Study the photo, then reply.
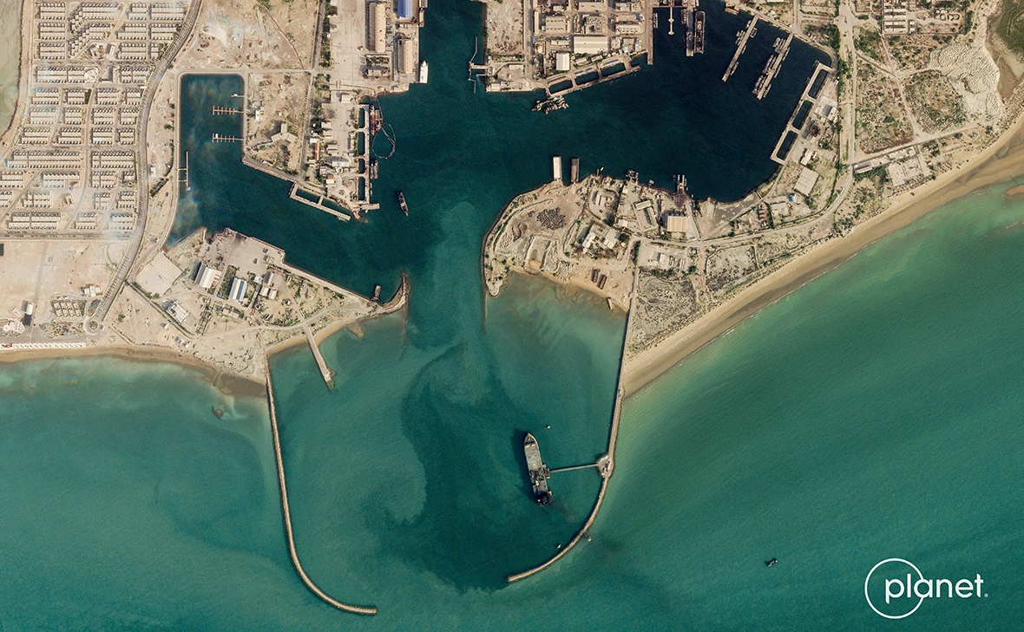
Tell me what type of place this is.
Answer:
port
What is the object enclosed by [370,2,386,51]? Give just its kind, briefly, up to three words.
building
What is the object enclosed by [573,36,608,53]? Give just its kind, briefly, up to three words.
building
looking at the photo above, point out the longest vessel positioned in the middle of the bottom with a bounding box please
[523,433,548,508]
